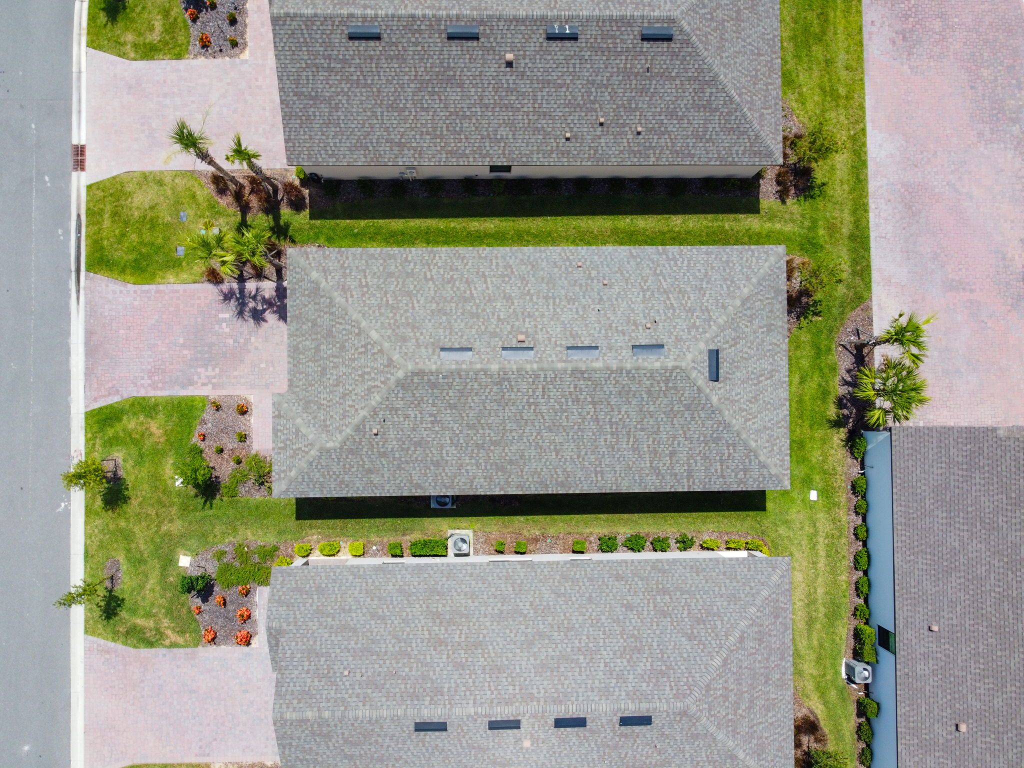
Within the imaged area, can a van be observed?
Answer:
No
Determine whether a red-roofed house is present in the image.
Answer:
No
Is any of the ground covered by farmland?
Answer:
No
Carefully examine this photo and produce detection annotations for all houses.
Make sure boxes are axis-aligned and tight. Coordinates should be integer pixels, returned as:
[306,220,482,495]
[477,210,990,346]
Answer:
[862,424,1024,768]
[268,0,784,181]
[265,550,798,768]
[272,247,792,497]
